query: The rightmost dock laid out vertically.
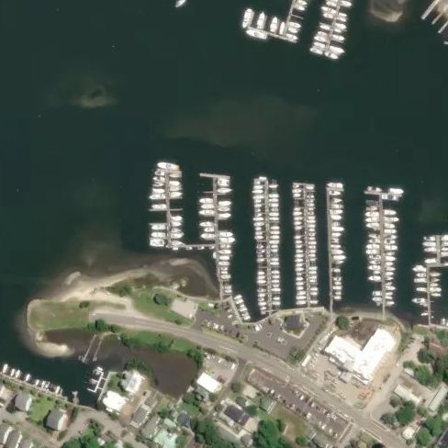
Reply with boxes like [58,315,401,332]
[415,234,448,323]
